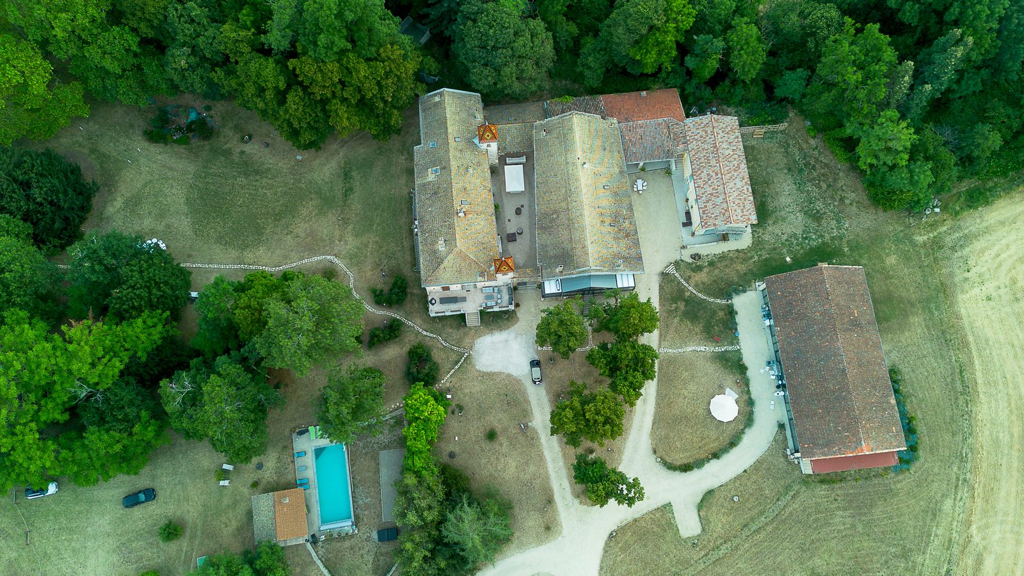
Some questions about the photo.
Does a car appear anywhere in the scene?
Yes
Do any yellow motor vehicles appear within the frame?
No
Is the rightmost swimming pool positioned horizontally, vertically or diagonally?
vertically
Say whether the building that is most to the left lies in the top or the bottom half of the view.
bottom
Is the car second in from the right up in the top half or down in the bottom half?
bottom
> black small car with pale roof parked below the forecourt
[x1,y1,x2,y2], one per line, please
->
[528,357,544,386]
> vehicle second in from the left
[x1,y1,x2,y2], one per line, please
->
[118,488,156,508]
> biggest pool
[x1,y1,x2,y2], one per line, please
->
[310,440,357,535]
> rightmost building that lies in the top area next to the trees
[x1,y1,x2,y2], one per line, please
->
[684,114,758,243]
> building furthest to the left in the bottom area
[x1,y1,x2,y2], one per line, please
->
[250,487,313,545]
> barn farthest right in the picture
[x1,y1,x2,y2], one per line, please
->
[760,263,907,475]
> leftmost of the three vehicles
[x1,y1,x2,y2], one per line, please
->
[20,482,57,500]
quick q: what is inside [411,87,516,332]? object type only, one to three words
house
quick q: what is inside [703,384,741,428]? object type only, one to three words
tent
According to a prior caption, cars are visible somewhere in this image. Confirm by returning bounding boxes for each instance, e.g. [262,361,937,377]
[528,357,544,386]
[20,482,57,500]
[118,488,156,508]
